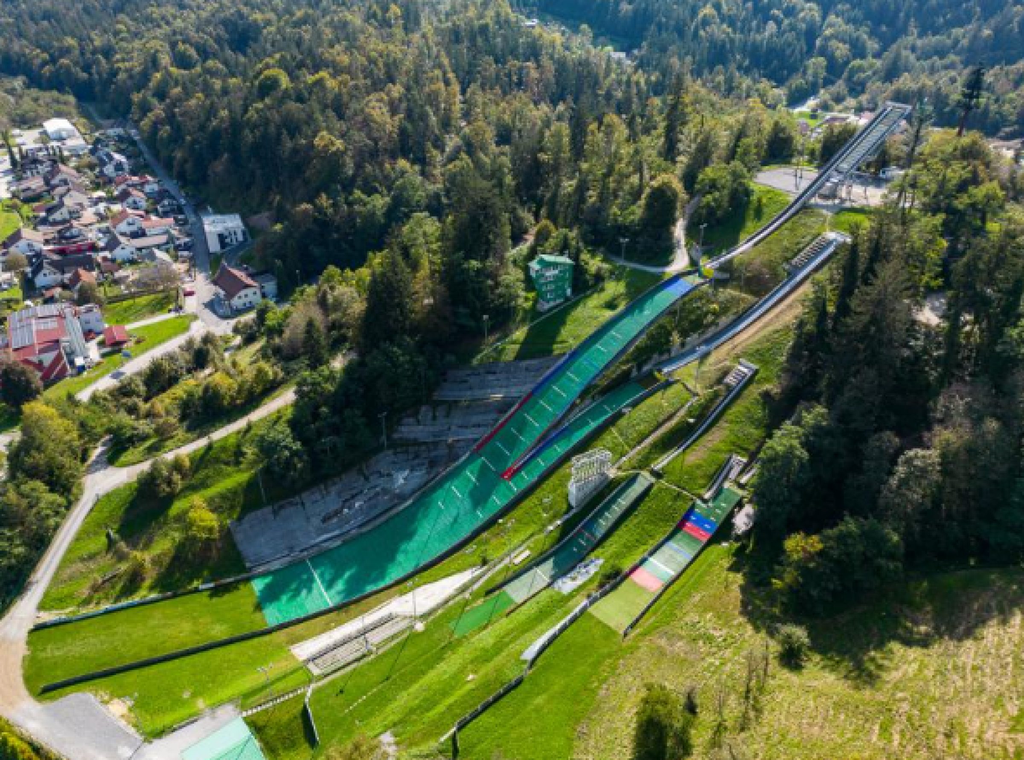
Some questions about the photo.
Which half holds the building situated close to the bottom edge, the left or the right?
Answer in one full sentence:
It is on the left.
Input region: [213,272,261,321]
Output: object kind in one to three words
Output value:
house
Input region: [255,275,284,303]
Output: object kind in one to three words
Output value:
house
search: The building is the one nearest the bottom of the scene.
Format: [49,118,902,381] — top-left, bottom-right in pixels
[179,716,263,760]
